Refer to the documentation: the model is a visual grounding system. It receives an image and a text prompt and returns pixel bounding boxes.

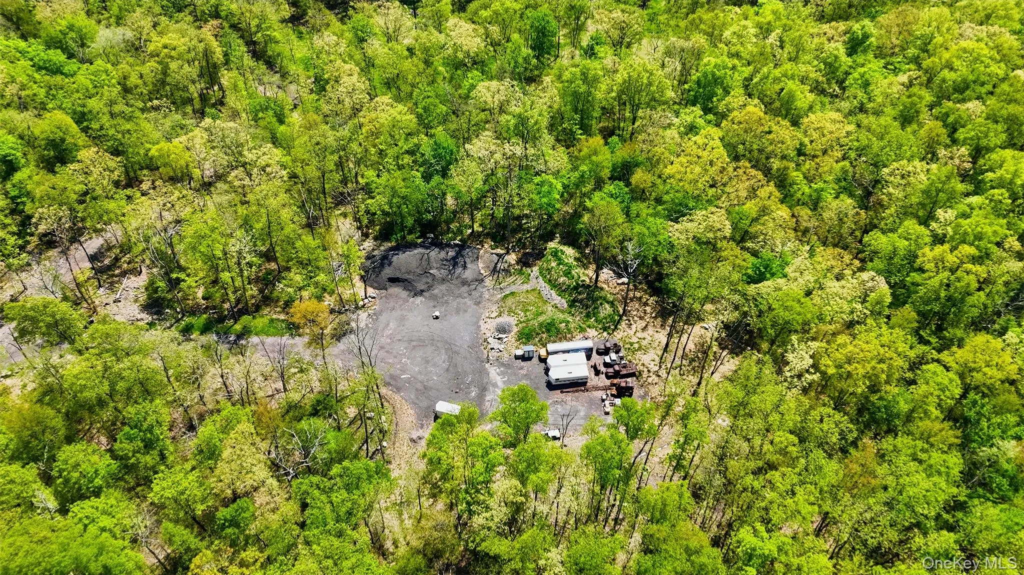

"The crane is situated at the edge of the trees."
[559,377,636,397]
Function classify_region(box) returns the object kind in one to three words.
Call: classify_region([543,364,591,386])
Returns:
trailer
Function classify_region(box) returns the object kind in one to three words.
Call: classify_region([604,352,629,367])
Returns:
vehicle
